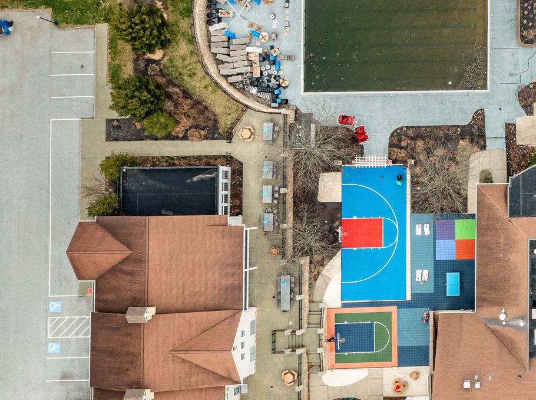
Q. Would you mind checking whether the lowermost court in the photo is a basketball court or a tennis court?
basketball court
